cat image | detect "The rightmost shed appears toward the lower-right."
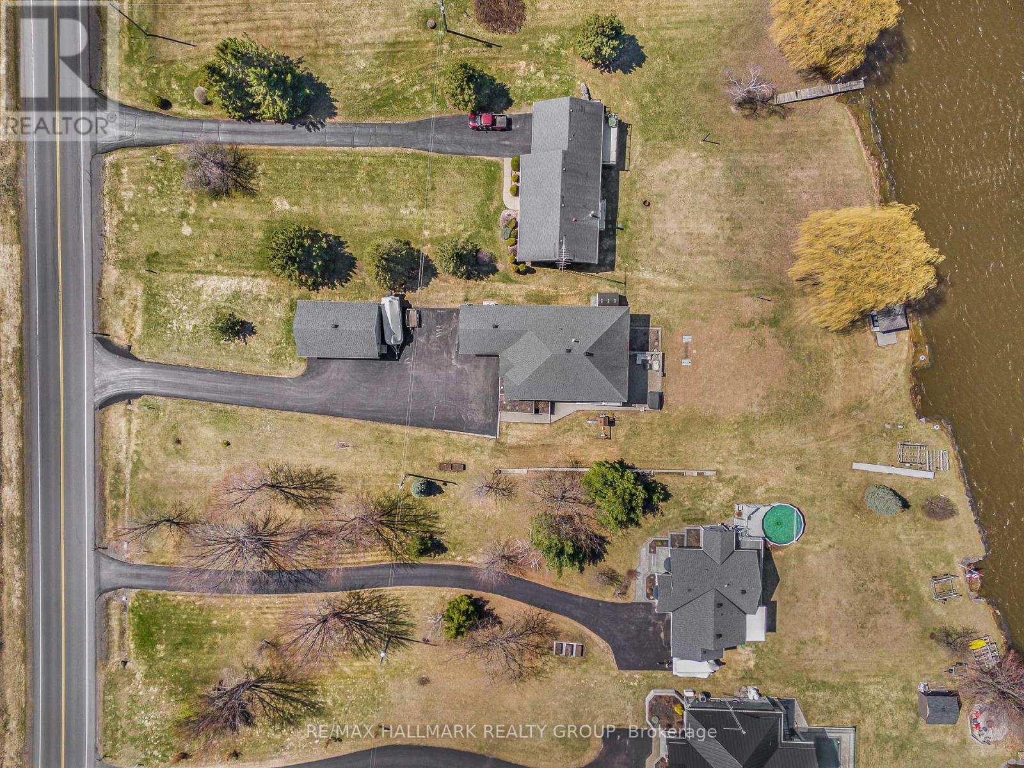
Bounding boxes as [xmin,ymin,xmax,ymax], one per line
[919,689,960,724]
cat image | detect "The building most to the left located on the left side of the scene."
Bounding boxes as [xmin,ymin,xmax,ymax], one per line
[293,300,382,359]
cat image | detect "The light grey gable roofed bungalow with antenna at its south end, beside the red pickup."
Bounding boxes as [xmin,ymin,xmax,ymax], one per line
[517,97,604,264]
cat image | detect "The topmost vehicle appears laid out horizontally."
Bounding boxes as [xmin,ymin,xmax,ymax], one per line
[468,111,509,129]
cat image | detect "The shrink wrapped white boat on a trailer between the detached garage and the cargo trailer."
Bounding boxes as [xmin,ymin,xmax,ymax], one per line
[382,293,403,359]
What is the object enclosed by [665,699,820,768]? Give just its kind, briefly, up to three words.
house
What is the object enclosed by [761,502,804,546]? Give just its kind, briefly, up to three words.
swimming pool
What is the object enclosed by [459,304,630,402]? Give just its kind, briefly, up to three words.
house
